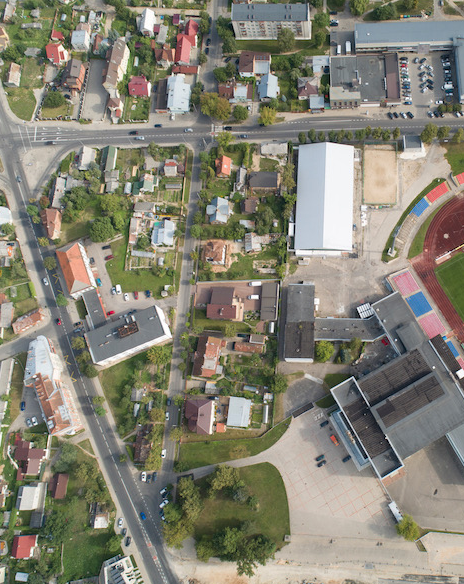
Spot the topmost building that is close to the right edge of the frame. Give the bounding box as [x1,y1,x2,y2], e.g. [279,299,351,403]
[355,21,464,53]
